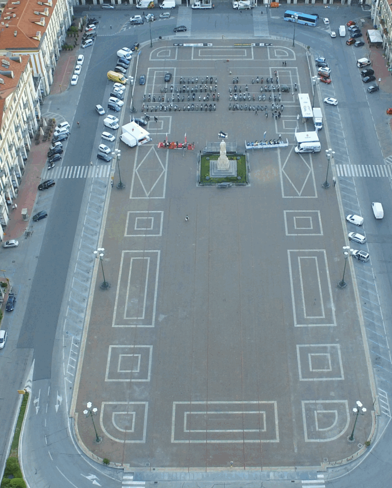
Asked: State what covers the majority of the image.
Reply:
paved ground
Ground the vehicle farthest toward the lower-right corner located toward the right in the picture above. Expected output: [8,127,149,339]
[352,249,375,261]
